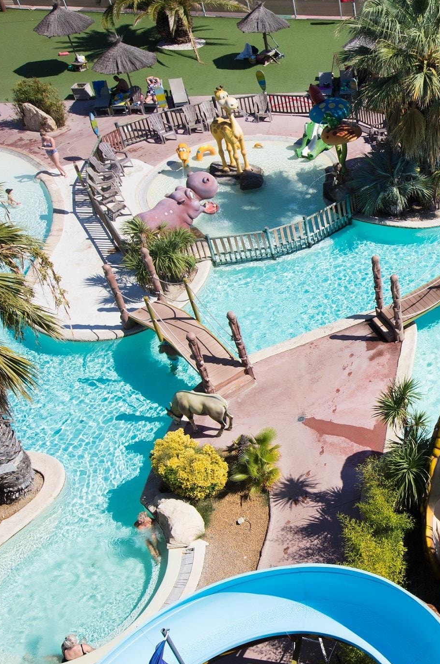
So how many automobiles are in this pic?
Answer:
0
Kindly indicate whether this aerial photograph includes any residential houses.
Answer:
No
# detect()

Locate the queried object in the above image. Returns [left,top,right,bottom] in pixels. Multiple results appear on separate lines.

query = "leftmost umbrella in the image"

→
[26,1,95,57]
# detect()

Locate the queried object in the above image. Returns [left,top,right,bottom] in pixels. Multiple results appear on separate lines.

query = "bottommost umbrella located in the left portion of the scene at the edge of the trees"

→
[88,29,160,87]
